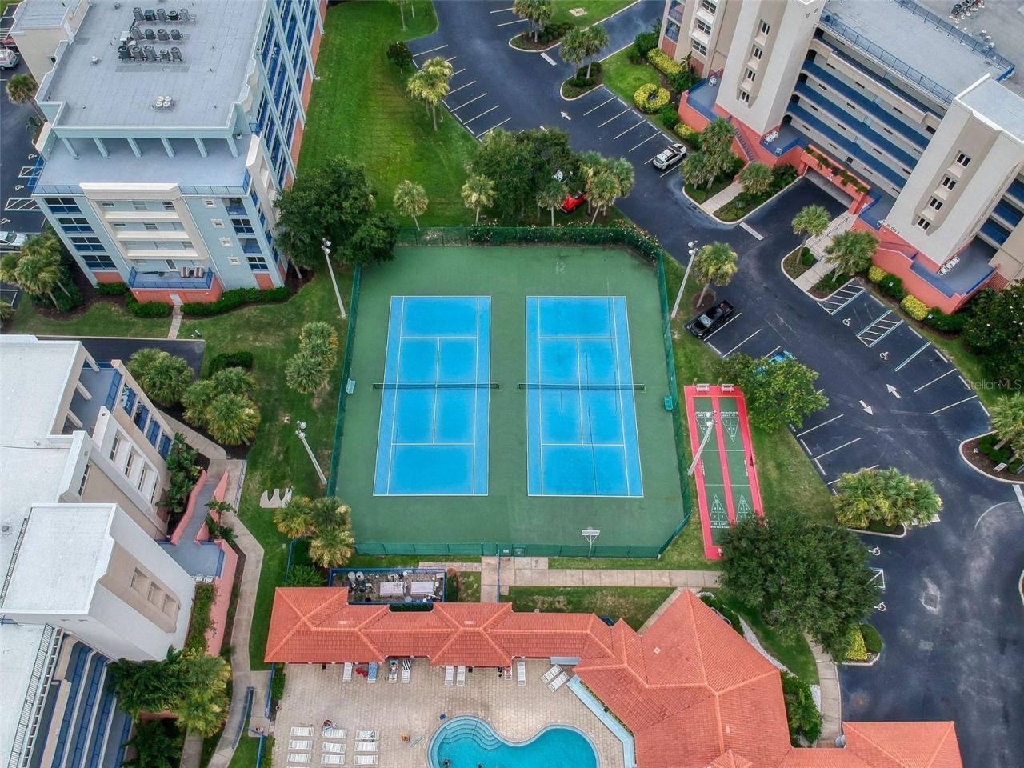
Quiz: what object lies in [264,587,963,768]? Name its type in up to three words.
building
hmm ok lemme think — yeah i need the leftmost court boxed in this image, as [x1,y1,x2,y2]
[331,250,508,555]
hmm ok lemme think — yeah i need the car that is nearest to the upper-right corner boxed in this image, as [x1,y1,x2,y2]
[651,144,687,171]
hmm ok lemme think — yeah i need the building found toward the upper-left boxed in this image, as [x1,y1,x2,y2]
[8,0,327,305]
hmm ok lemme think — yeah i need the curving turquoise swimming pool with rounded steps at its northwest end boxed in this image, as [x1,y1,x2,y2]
[427,715,601,768]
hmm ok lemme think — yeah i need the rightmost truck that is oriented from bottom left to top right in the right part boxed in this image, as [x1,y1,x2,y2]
[685,297,738,338]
